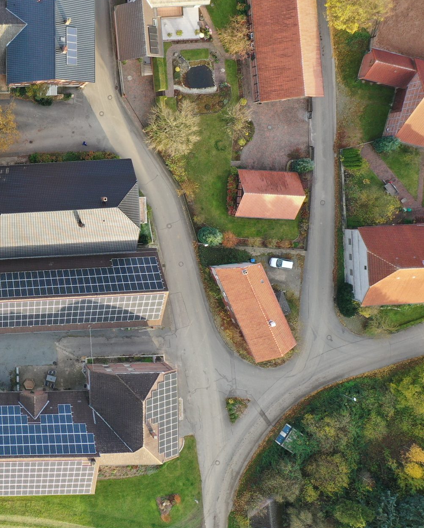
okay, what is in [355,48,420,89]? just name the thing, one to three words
shed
